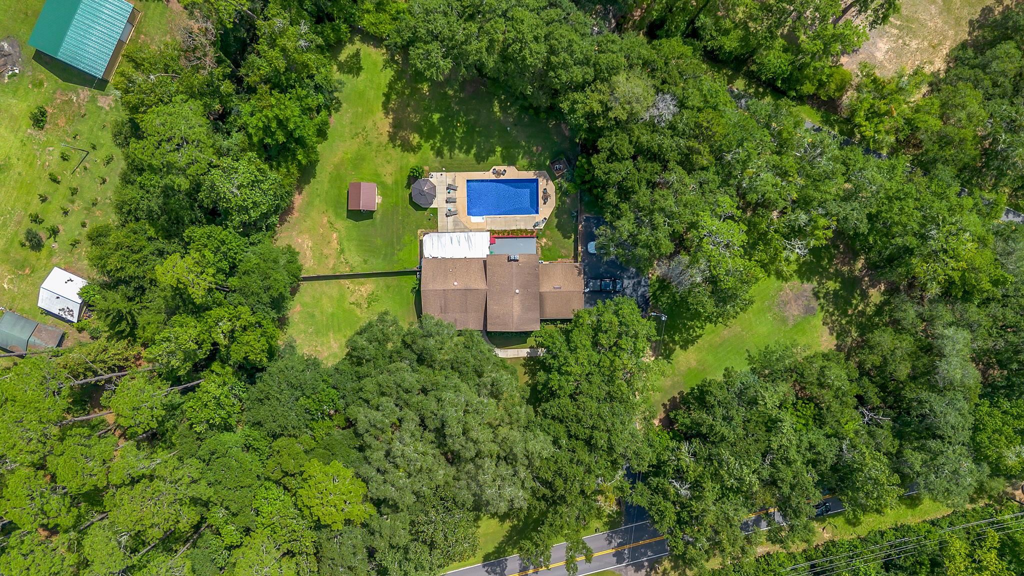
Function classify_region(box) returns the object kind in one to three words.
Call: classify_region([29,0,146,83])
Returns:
barn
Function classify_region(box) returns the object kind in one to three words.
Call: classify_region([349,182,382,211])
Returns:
shed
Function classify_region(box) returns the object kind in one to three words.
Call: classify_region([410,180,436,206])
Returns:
gazebo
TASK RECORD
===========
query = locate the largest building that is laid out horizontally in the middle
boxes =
[421,254,584,332]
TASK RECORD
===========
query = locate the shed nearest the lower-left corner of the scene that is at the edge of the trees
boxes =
[0,310,70,354]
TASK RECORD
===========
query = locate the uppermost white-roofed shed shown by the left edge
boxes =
[38,267,95,323]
